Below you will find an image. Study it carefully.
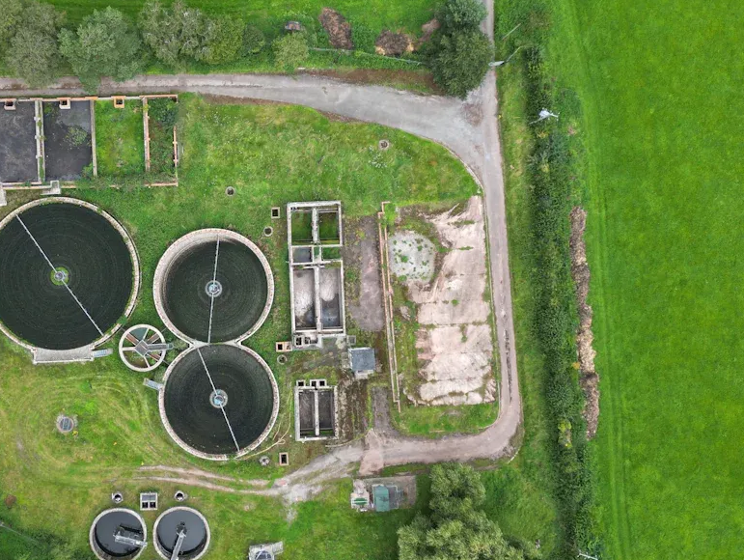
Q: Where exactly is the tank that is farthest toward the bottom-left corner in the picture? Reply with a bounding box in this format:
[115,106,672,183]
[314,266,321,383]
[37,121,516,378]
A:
[88,507,147,560]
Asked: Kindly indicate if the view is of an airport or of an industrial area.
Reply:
industrial area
